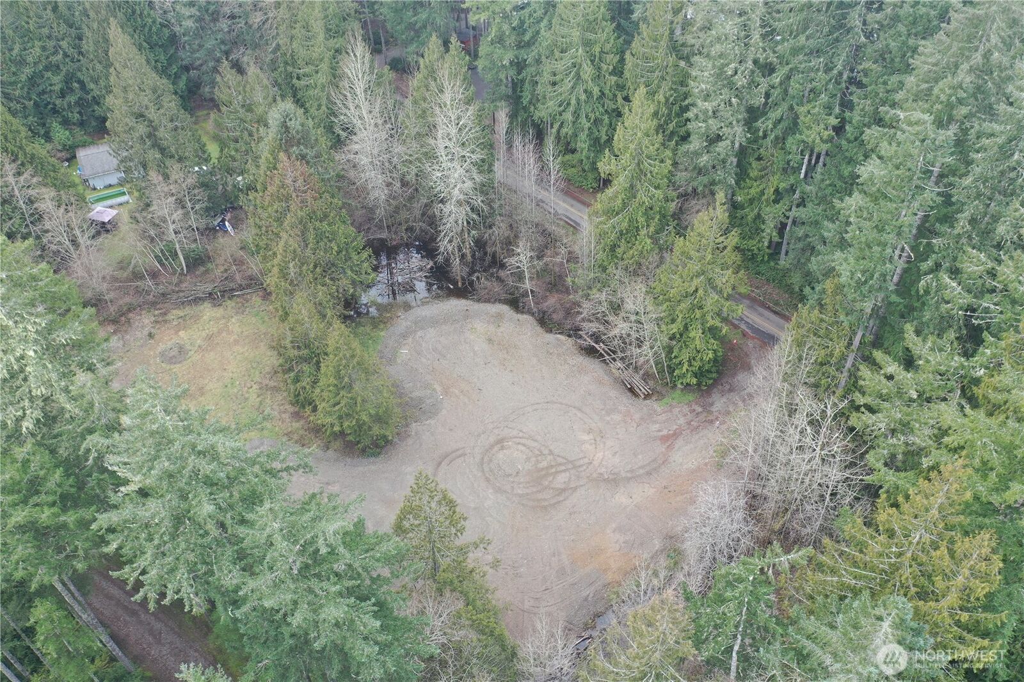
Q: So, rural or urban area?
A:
rural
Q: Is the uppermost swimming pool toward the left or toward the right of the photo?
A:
left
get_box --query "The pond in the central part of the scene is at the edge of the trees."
[354,236,633,393]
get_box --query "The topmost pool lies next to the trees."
[87,188,129,209]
